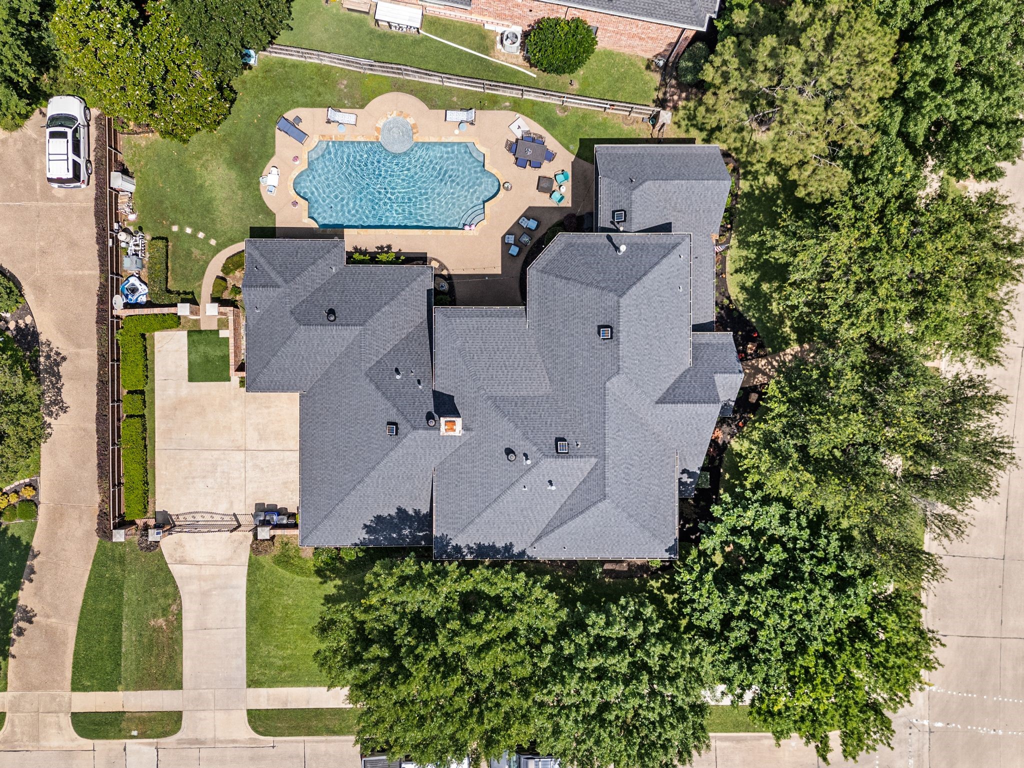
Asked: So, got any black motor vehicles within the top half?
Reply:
No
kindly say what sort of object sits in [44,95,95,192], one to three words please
car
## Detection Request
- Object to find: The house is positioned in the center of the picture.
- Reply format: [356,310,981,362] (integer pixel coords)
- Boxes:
[241,143,744,561]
